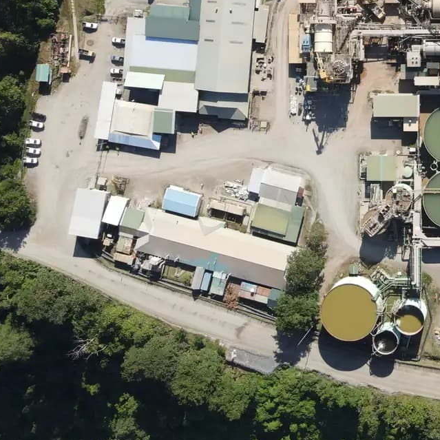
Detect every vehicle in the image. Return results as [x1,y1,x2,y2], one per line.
[109,55,125,62]
[110,37,126,44]
[22,157,39,165]
[29,120,45,128]
[31,114,46,122]
[24,139,41,145]
[108,68,124,75]
[24,147,41,155]
[81,22,98,29]
[77,48,95,56]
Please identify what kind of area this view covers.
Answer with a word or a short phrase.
industrial area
